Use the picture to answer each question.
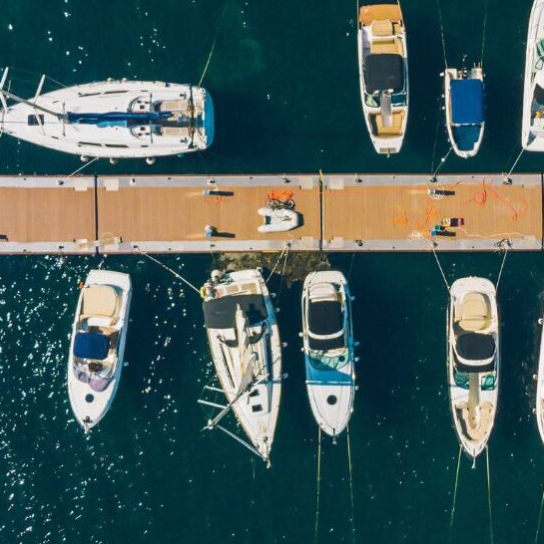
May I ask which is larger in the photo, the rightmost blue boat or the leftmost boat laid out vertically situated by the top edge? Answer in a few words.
the leftmost boat laid out vertically situated by the top edge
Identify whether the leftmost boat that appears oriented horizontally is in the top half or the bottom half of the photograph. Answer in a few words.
top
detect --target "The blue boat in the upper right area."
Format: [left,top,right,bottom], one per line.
[445,57,484,160]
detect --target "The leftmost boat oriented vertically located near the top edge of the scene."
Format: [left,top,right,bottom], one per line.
[359,6,409,159]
